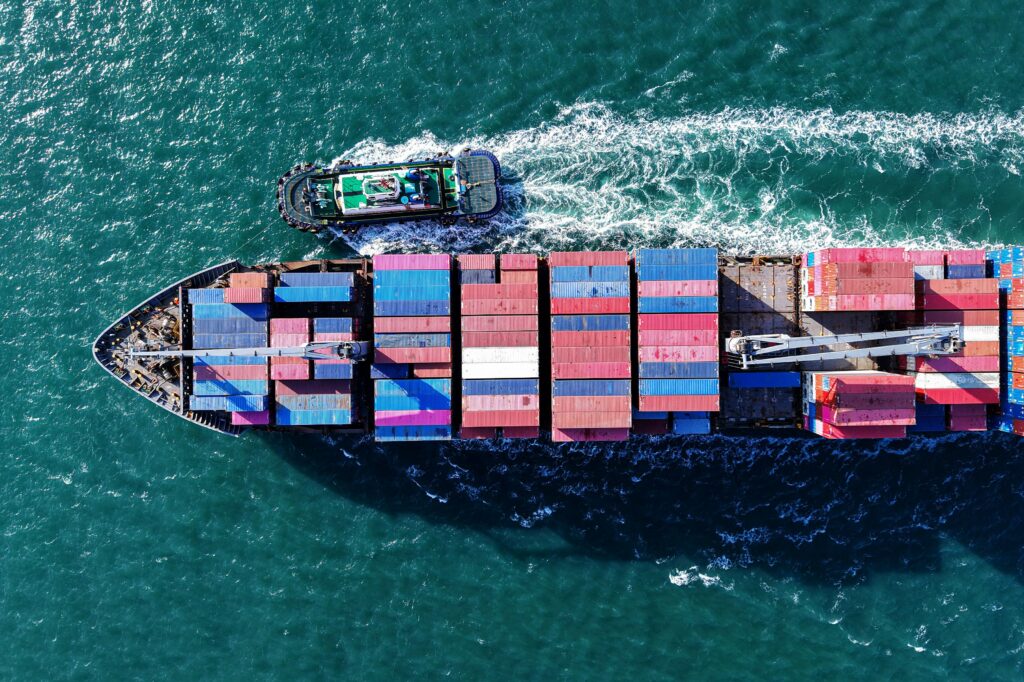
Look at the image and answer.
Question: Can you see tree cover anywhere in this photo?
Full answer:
No, there is no tree cover in the image.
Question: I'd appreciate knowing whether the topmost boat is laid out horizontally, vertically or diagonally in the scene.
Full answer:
In this picture, the topmost boat lies horizontally.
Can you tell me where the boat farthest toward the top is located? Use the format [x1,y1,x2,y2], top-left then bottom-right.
[278,150,504,233]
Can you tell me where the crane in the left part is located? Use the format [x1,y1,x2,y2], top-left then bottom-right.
[127,333,374,363]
